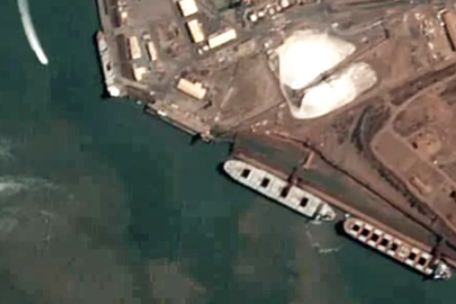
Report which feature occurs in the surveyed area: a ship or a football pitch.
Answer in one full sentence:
Looking from above, you can make out a ship.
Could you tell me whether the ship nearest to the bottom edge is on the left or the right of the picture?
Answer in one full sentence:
It is on the right.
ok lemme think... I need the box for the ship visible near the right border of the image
[344,217,454,279]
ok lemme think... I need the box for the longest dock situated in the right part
[232,151,450,264]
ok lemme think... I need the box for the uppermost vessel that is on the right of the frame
[222,157,338,221]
